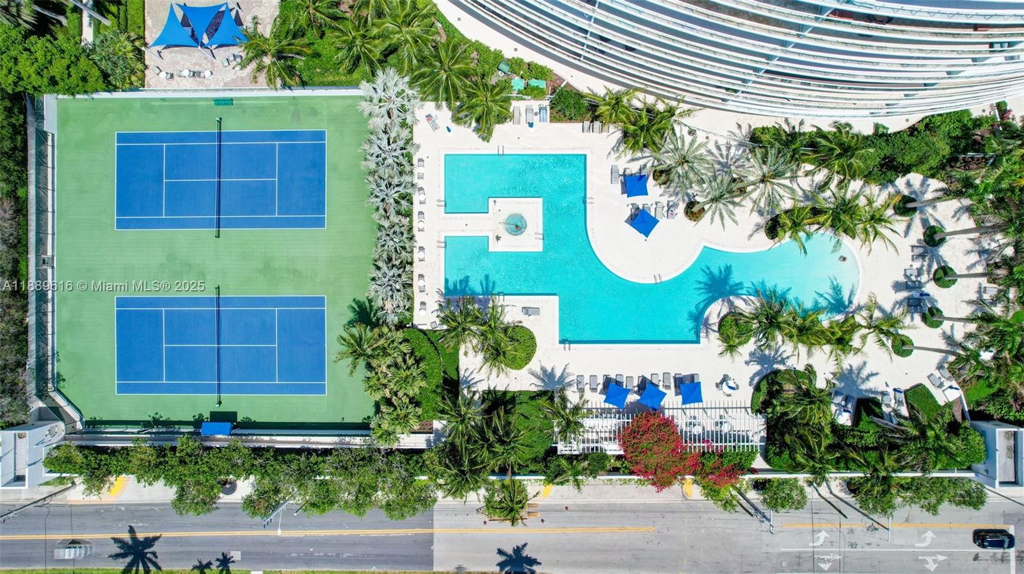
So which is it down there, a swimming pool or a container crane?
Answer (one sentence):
There is a swimming pool in the scene.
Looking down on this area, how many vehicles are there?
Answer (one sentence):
The count of vehicles comes to 2.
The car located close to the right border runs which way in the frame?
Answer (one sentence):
The car located close to the right border is laid out from left to right.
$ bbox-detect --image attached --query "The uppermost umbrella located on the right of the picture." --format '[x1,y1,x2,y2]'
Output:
[624,175,646,197]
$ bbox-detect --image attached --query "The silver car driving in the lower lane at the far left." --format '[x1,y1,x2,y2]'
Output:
[53,542,92,562]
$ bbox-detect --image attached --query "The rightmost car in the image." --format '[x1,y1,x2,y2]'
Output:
[975,530,1017,551]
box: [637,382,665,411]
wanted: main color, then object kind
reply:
blue umbrella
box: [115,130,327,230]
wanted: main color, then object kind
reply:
blue tennis court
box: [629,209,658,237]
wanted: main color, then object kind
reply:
blue umbrella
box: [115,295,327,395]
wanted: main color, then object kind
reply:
blue tennis court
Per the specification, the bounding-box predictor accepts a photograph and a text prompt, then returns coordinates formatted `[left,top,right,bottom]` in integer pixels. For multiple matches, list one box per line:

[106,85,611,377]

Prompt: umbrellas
[629,209,658,237]
[624,175,646,197]
[679,381,702,404]
[637,382,665,411]
[603,382,629,408]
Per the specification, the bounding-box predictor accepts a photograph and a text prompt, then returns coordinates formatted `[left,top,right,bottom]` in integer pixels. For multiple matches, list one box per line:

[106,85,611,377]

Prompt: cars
[53,542,92,562]
[975,530,1017,551]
